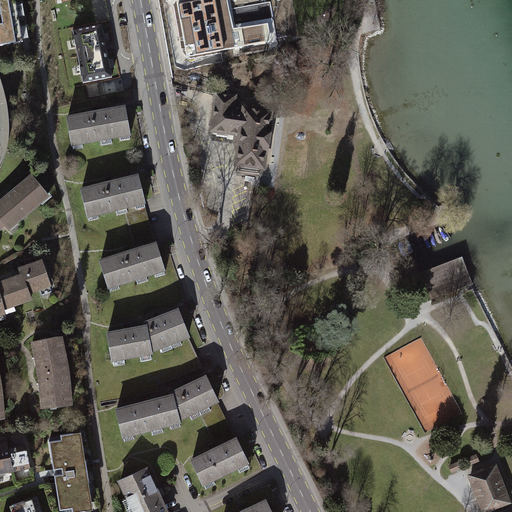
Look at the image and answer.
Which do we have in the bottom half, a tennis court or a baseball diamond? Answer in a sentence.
The feature located in the bottom half is a tennis court.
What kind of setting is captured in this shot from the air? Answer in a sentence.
This looks like a residential area.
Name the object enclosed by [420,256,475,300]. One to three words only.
building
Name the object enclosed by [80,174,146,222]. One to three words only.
house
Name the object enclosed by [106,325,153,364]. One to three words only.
house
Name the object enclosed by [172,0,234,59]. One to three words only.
building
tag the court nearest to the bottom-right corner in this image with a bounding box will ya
[384,336,462,433]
